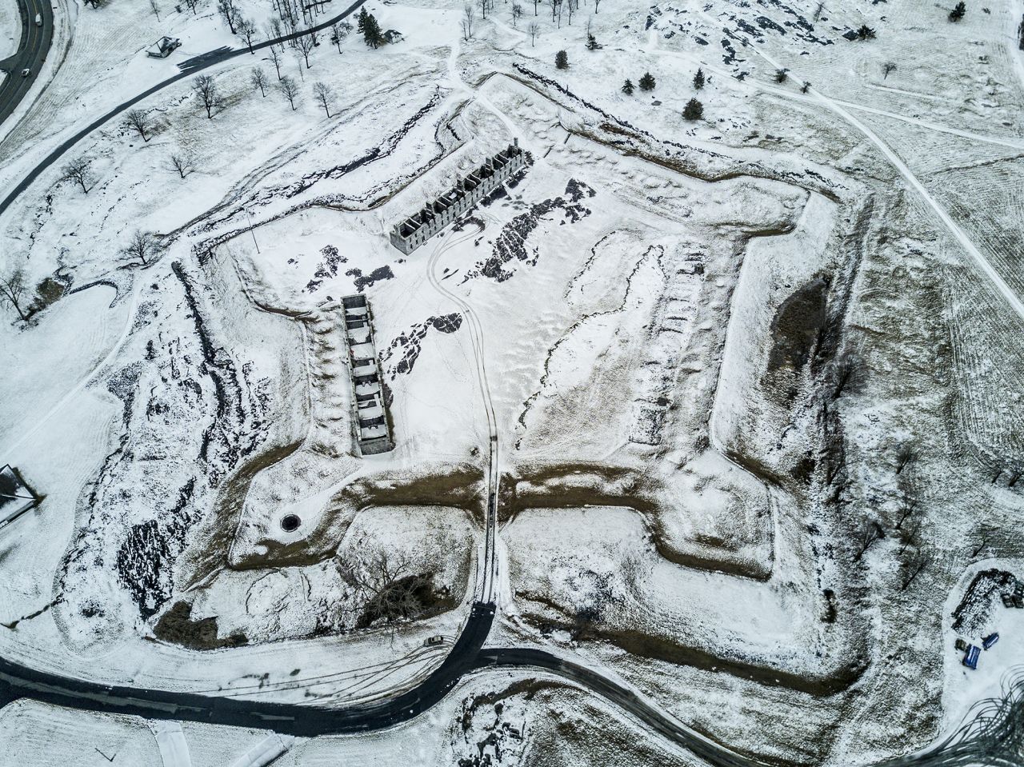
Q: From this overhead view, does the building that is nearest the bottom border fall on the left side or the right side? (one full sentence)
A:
The building that is nearest the bottom border sits on the left side.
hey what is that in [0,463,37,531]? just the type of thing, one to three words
building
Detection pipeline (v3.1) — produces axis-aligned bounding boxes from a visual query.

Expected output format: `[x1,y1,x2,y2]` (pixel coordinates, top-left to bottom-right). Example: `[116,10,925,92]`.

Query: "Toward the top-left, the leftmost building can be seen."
[146,37,184,58]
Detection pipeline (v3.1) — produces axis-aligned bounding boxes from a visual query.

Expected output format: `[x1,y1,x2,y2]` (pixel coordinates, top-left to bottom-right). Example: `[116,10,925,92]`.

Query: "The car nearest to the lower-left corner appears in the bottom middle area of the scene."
[422,635,444,648]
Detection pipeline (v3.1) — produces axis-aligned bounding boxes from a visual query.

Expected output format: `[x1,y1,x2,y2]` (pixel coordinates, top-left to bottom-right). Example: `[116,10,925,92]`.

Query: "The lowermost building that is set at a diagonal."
[384,134,525,254]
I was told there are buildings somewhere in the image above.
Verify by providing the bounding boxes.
[384,29,402,44]
[384,134,525,254]
[0,463,37,531]
[341,293,392,451]
[146,37,184,58]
